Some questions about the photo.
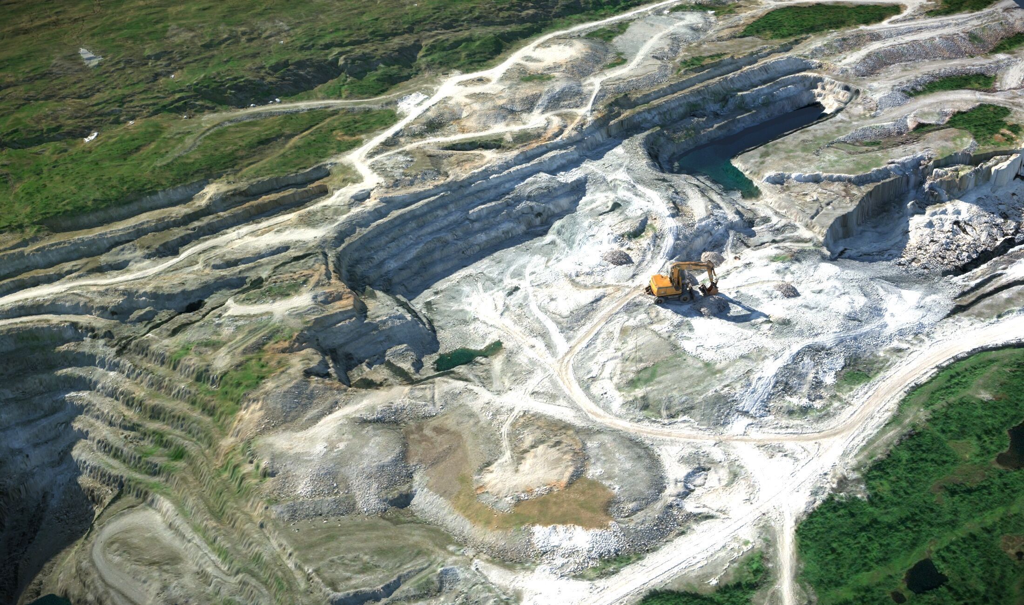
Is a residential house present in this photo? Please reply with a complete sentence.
No, the picture doesn't show any residential house.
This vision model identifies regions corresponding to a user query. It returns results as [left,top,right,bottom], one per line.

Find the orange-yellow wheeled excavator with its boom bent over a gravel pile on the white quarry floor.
[639,259,722,307]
